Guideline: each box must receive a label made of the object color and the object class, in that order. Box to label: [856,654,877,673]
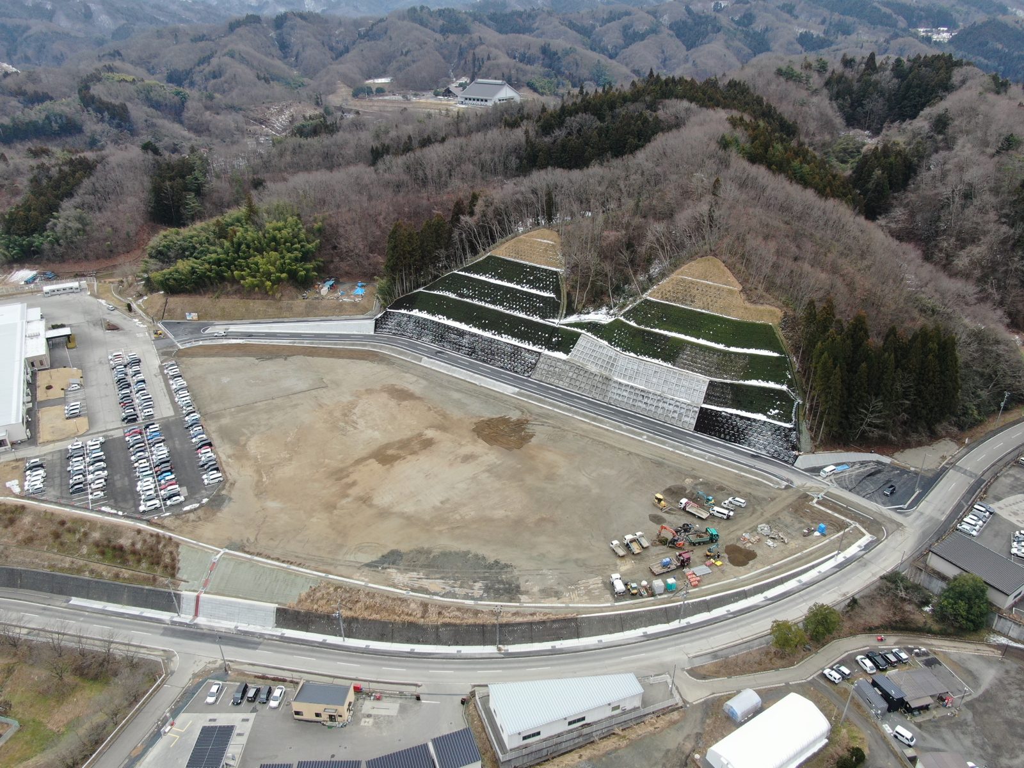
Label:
white car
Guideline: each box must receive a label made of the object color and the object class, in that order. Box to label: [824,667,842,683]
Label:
white car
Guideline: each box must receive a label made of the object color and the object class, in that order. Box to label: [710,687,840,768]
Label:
white tent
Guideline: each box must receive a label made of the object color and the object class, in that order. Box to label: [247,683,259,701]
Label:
gray vehicle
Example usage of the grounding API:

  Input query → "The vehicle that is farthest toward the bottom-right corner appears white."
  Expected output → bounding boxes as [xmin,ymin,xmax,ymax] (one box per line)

[890,721,918,746]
